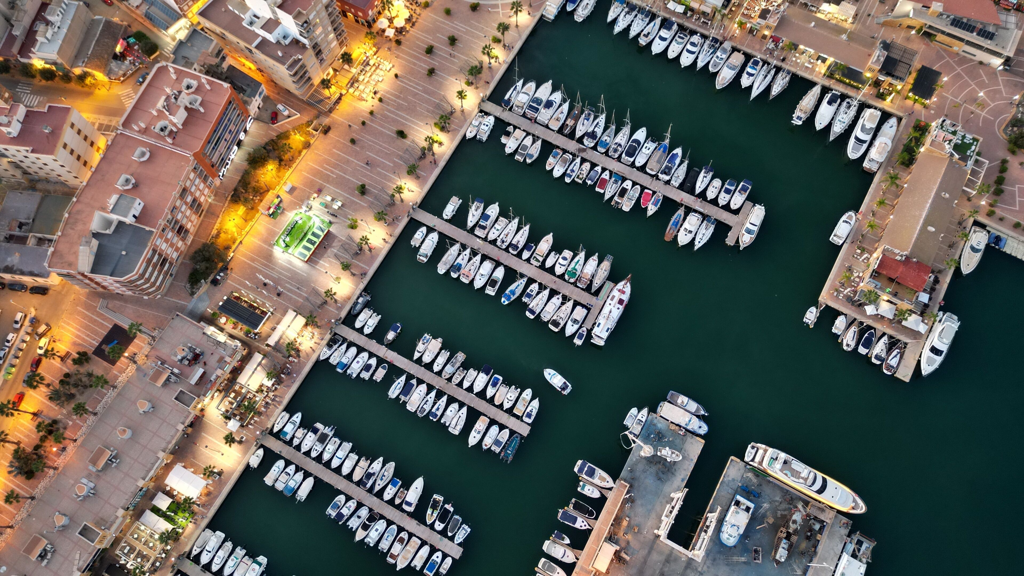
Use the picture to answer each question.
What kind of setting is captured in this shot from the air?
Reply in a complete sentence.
It's a port.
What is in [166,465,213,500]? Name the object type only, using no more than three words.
tent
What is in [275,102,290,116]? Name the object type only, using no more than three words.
car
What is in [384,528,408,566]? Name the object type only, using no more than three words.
boat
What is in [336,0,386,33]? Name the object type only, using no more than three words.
building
